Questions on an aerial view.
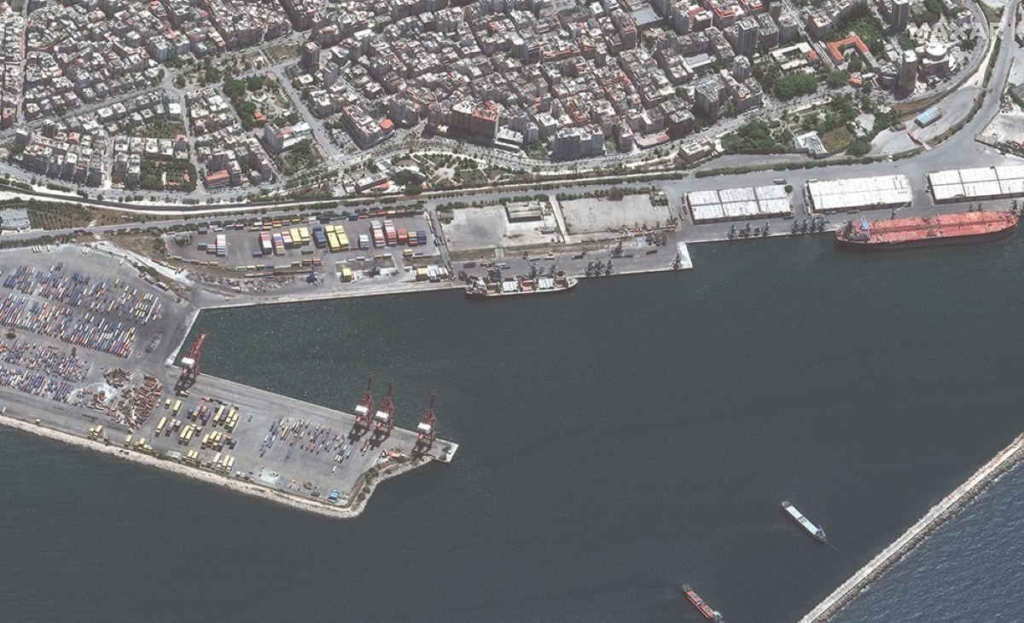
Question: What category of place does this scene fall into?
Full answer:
It's a port.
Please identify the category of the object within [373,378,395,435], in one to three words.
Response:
container crane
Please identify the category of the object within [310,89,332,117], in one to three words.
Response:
building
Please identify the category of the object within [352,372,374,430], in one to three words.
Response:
container crane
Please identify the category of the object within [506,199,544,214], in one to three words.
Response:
shed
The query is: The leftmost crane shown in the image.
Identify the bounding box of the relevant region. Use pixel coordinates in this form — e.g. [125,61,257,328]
[178,330,207,382]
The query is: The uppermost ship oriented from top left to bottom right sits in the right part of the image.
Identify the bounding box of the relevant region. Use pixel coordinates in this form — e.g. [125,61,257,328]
[781,502,828,544]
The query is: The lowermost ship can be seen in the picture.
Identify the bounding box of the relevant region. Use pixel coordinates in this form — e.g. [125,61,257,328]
[682,586,726,623]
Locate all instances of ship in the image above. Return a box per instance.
[835,206,1018,249]
[465,254,578,296]
[781,502,828,544]
[682,586,726,623]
